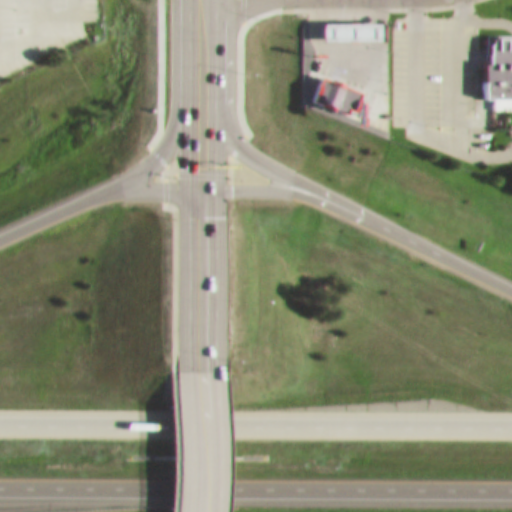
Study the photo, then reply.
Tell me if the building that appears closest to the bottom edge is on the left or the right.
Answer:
right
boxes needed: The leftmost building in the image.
[315,81,362,113]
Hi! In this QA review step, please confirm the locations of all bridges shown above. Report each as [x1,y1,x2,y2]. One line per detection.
[172,355,234,512]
